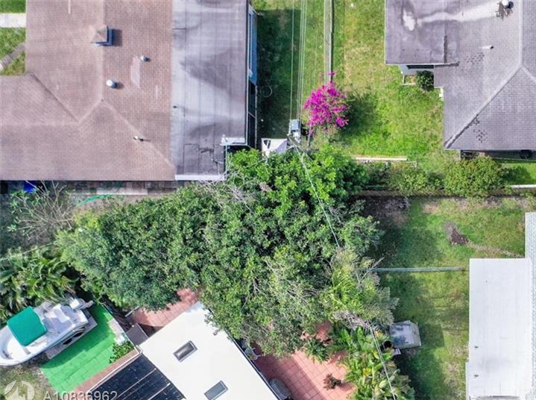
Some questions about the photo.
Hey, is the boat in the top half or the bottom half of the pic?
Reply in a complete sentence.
The boat is in the bottom half of the image.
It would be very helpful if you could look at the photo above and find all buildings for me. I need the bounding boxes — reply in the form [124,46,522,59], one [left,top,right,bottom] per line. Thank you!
[465,212,536,400]
[390,321,425,349]
[66,302,281,400]
[385,0,536,160]
[0,0,266,181]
